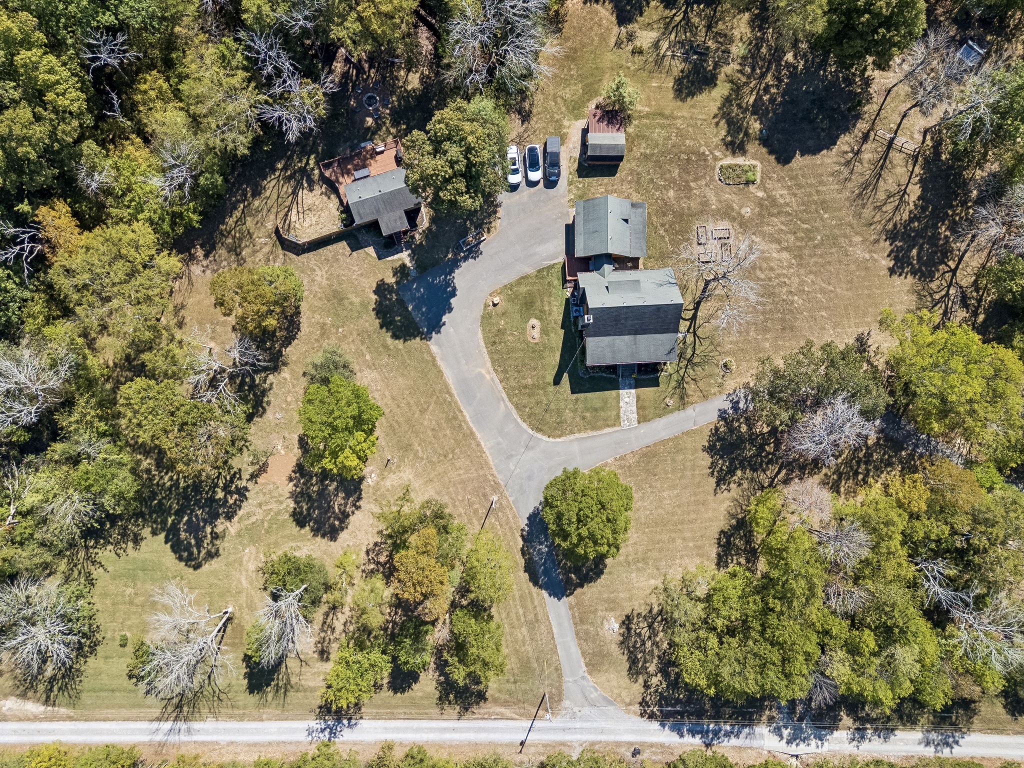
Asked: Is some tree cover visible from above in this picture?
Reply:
Yes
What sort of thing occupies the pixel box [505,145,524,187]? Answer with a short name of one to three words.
car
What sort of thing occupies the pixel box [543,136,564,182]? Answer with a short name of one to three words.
truck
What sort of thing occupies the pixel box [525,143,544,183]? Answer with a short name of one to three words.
car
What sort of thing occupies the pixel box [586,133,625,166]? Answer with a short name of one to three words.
shed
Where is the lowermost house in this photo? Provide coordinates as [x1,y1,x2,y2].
[575,267,684,376]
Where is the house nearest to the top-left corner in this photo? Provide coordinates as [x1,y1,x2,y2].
[346,166,421,248]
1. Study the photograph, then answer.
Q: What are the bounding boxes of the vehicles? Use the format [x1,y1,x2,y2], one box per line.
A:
[525,143,544,183]
[505,145,524,187]
[543,136,564,182]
